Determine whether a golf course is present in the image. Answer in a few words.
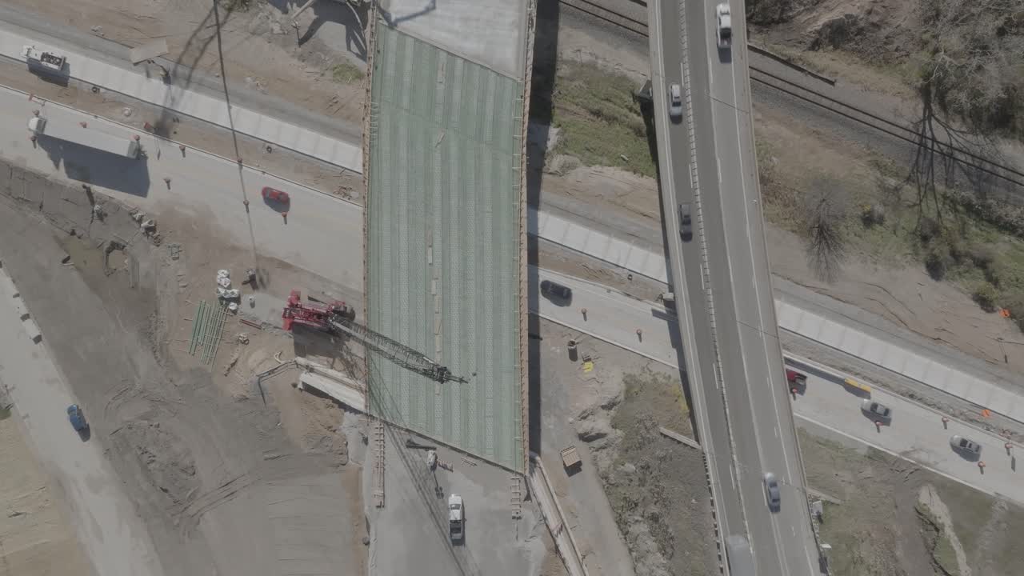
No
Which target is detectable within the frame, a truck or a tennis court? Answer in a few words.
truck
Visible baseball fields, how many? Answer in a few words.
zero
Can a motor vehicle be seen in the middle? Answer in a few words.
Yes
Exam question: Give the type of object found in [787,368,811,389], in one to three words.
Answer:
truck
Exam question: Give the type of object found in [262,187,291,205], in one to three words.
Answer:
car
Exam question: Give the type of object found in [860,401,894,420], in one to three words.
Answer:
car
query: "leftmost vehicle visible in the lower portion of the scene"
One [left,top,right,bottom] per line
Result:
[65,400,89,434]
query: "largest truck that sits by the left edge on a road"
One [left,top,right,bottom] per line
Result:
[18,113,140,162]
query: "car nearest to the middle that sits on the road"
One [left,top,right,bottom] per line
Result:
[539,279,573,300]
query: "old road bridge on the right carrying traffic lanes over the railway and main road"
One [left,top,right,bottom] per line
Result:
[633,0,837,527]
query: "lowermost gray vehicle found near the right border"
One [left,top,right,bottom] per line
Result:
[949,435,984,455]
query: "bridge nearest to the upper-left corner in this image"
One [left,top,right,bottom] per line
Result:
[361,0,536,476]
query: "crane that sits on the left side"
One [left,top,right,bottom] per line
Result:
[272,283,476,383]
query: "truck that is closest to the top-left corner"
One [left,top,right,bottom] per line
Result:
[23,45,72,76]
